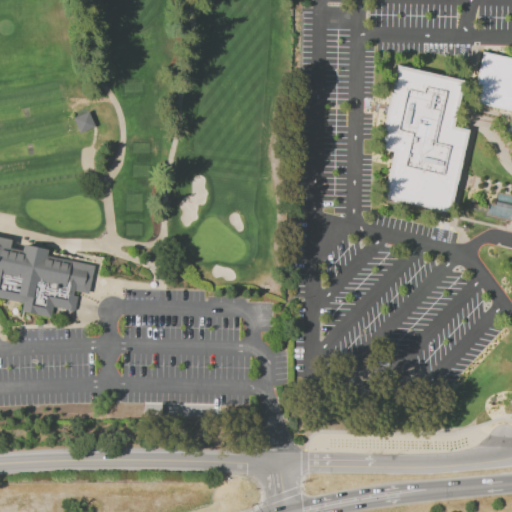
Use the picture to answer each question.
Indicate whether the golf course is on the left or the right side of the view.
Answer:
left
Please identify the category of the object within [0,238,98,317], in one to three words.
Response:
building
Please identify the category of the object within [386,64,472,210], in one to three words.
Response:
building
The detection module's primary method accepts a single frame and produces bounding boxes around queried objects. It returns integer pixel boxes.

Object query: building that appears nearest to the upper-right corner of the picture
[479,51,512,110]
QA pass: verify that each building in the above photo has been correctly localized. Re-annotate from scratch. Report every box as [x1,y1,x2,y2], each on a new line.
[386,64,472,210]
[0,238,98,317]
[479,51,512,110]
[488,194,512,220]
[75,112,96,132]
